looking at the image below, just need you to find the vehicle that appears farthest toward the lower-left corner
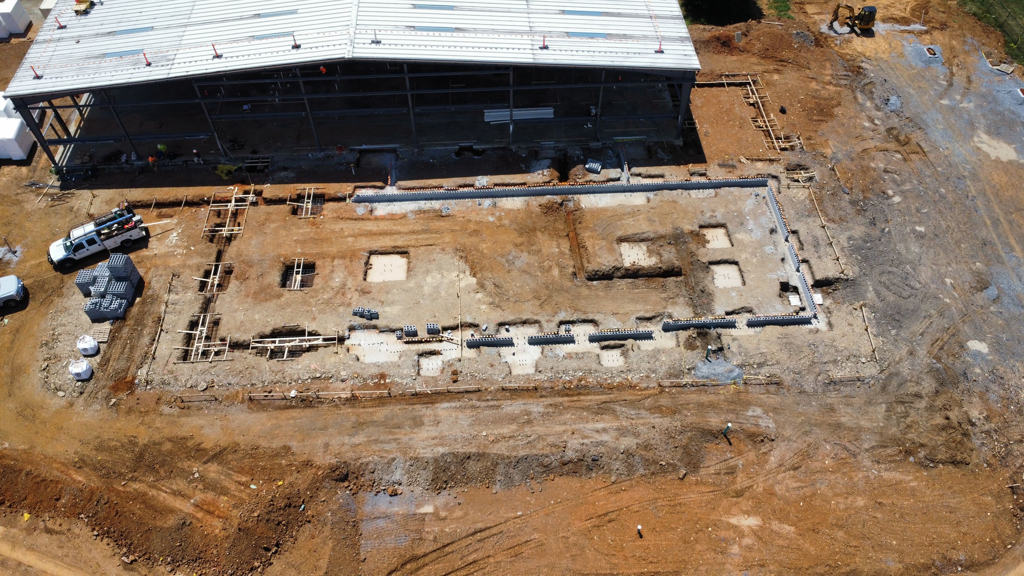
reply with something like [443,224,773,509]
[0,280,30,311]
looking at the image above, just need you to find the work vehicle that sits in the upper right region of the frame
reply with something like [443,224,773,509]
[826,3,879,40]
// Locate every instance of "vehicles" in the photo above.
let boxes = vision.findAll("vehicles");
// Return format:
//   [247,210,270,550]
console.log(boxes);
[41,204,151,269]
[0,280,30,311]
[826,3,879,40]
